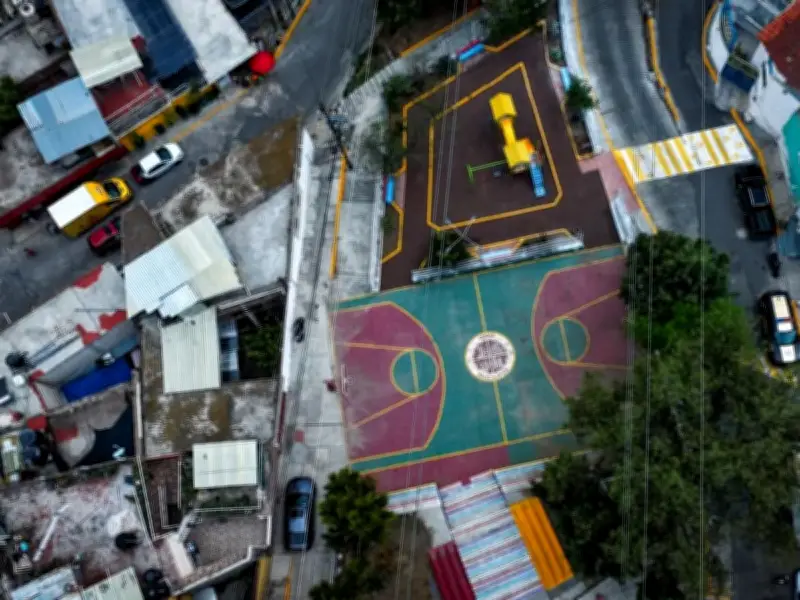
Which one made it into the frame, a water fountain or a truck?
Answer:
truck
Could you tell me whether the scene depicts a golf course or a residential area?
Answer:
residential area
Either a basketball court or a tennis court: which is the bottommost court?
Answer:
basketball court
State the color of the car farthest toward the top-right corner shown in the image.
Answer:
black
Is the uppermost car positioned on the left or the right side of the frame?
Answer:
left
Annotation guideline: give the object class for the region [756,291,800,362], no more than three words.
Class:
car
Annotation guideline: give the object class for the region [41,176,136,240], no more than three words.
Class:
truck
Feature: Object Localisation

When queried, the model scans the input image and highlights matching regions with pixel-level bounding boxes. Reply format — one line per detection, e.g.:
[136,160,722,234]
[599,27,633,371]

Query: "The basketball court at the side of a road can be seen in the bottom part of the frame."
[328,243,658,492]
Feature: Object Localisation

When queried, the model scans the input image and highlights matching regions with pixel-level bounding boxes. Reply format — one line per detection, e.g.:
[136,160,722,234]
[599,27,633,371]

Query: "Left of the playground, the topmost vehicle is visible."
[128,138,189,184]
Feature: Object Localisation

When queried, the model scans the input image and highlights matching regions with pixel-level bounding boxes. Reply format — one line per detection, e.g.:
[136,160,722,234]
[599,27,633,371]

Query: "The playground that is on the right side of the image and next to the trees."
[377,19,625,291]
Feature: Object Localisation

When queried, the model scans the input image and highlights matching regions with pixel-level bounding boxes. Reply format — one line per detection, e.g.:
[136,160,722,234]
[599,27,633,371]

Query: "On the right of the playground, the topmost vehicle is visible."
[734,166,777,238]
